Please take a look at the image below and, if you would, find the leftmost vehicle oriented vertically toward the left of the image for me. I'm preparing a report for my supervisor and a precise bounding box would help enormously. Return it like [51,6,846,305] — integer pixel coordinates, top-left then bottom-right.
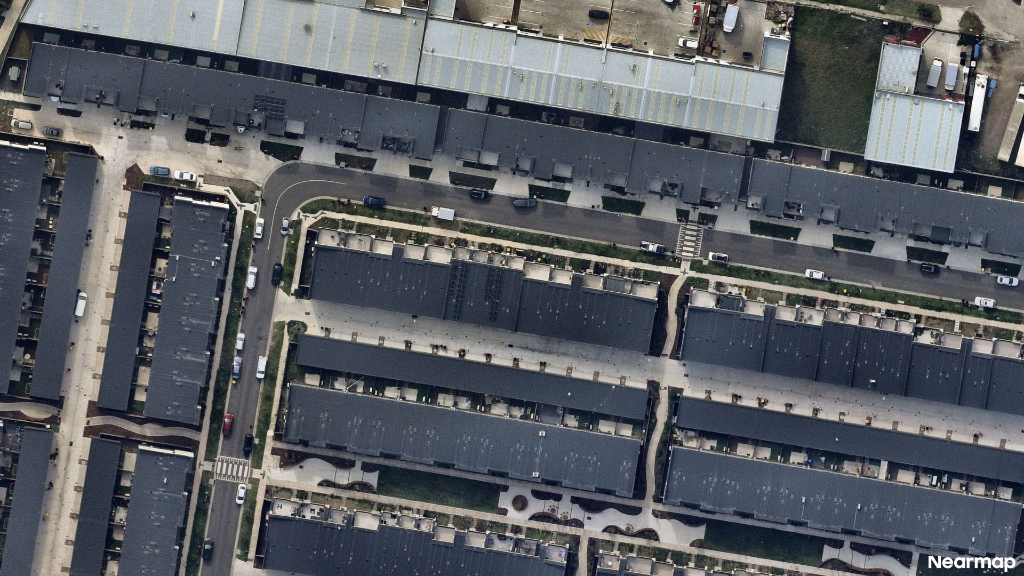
[75,292,87,318]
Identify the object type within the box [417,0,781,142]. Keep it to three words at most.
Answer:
warehouse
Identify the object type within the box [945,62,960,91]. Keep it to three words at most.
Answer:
vehicle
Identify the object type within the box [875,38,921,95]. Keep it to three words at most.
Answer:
building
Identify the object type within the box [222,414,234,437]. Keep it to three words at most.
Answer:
vehicle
